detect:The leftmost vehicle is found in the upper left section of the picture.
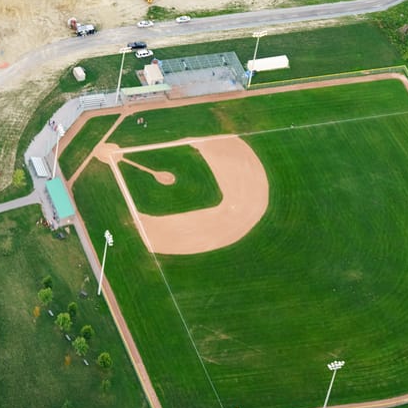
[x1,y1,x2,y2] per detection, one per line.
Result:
[70,20,98,35]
